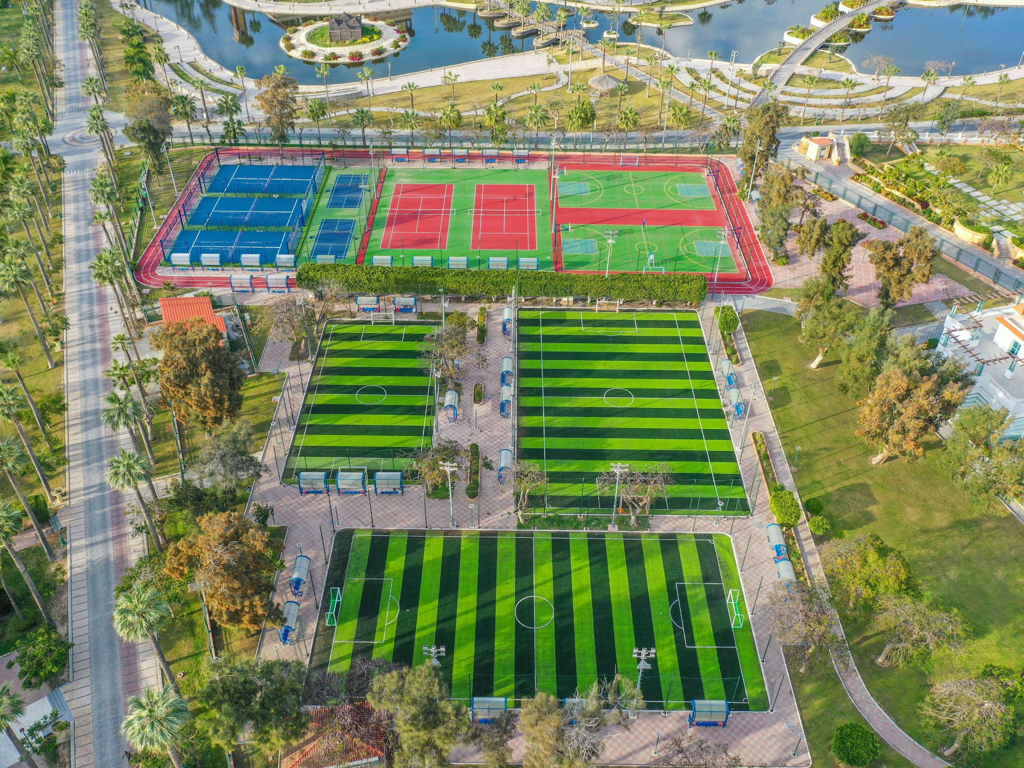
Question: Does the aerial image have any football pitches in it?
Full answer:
Yes, a football pitch can be made out from above.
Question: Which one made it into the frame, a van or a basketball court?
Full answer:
The image shows a basketball court.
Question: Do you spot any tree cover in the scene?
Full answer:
Yes, some tree cover is visible.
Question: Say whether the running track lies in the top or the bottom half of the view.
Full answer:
It is in the top half that the running track appears.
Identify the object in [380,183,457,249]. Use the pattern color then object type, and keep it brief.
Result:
red tennis court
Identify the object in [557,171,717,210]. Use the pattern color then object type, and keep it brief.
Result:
green basketball court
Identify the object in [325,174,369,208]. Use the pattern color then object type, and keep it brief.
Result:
blue sports court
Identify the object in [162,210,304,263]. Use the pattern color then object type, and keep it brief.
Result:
blue sports court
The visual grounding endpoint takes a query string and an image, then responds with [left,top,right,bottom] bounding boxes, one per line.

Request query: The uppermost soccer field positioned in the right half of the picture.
[516,306,751,517]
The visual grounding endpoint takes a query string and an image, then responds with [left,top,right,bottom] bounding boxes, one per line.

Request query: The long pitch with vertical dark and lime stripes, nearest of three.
[300,527,771,712]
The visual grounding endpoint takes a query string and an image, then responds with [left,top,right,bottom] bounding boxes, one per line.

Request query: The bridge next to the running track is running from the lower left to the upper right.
[738,0,911,109]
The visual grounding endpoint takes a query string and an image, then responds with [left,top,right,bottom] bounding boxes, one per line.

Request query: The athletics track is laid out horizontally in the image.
[133,148,776,295]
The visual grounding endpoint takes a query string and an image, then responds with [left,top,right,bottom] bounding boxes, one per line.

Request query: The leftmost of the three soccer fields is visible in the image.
[279,318,444,487]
